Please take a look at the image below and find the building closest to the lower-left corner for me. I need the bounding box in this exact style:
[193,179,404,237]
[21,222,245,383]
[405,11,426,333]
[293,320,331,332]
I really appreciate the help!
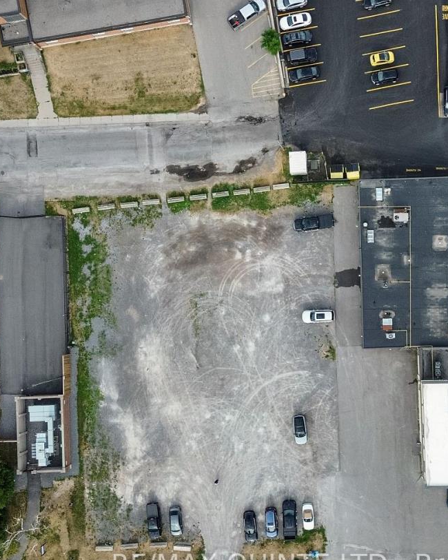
[15,392,74,475]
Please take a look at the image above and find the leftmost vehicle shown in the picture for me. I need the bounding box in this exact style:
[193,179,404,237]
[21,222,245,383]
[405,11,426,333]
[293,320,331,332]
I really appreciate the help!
[145,501,163,541]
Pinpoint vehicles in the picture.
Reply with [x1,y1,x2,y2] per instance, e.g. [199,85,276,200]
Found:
[282,29,313,48]
[279,12,312,31]
[369,50,395,67]
[145,501,163,541]
[276,0,308,12]
[293,414,309,445]
[284,46,318,66]
[168,504,184,536]
[281,499,298,540]
[302,502,316,530]
[242,508,258,542]
[362,0,393,11]
[225,0,268,31]
[264,505,279,537]
[288,65,321,84]
[302,309,334,324]
[293,213,335,232]
[370,69,400,86]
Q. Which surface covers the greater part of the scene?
paved ground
